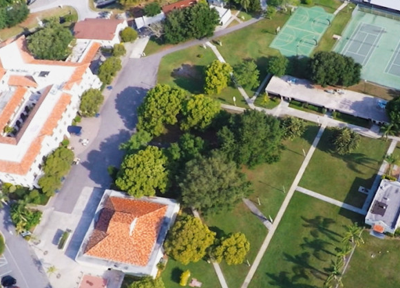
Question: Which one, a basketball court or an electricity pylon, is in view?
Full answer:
I can see a basketball court in this picture.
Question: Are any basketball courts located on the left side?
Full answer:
No, I can find no basketball court on the left side.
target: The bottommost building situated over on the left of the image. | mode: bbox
[76,190,180,282]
